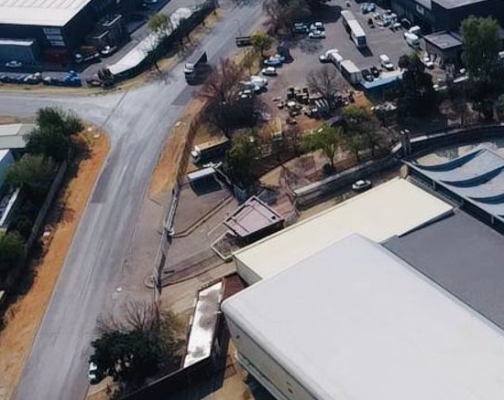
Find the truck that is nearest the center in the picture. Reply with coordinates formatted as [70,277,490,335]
[188,136,231,162]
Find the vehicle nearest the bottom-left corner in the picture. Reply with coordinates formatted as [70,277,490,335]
[86,360,100,382]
